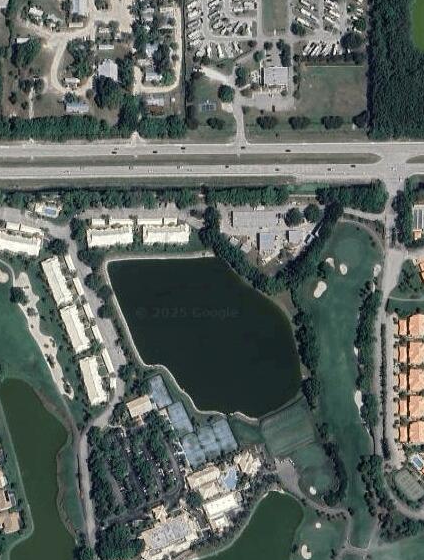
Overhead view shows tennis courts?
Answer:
Yes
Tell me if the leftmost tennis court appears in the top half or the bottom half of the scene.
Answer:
bottom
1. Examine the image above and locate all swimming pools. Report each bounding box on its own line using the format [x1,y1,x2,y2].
[219,461,244,494]
[410,453,424,474]
[35,201,62,218]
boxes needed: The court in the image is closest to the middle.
[147,377,174,410]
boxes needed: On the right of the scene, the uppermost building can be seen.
[265,66,289,87]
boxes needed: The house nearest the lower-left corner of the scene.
[0,510,21,532]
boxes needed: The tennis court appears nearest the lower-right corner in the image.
[394,466,424,503]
